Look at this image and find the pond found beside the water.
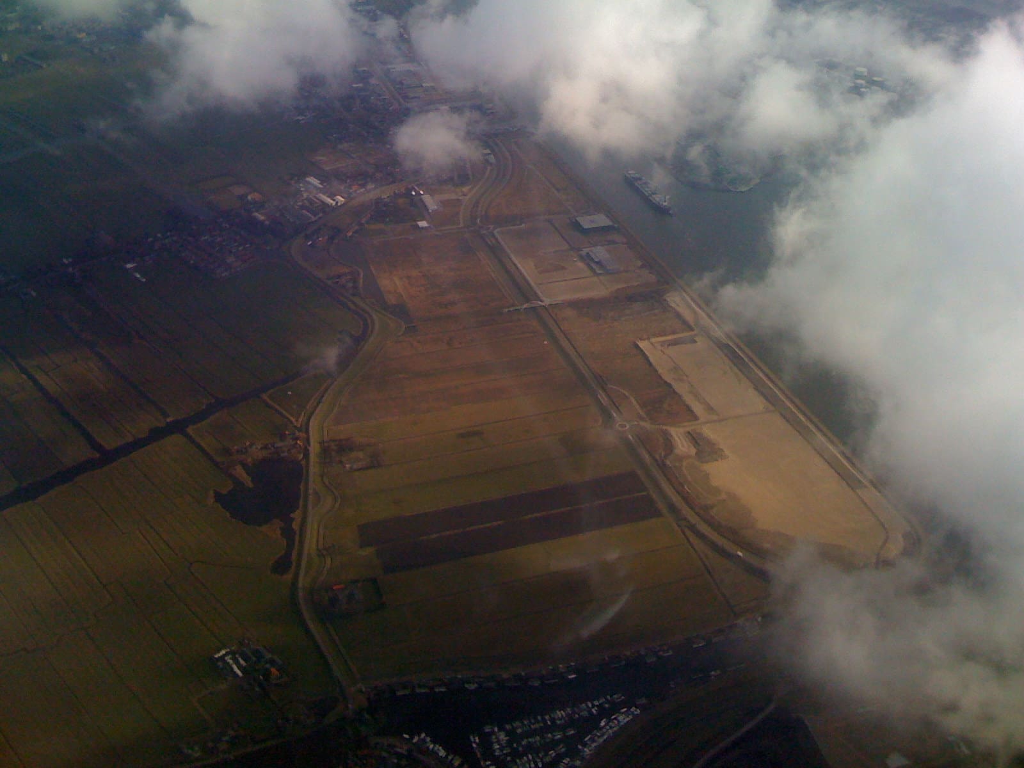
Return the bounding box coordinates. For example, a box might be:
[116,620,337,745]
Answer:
[214,458,302,574]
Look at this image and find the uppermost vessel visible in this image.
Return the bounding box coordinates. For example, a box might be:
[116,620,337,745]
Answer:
[622,168,677,213]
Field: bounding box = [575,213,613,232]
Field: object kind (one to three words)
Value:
building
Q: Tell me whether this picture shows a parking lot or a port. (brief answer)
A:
port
